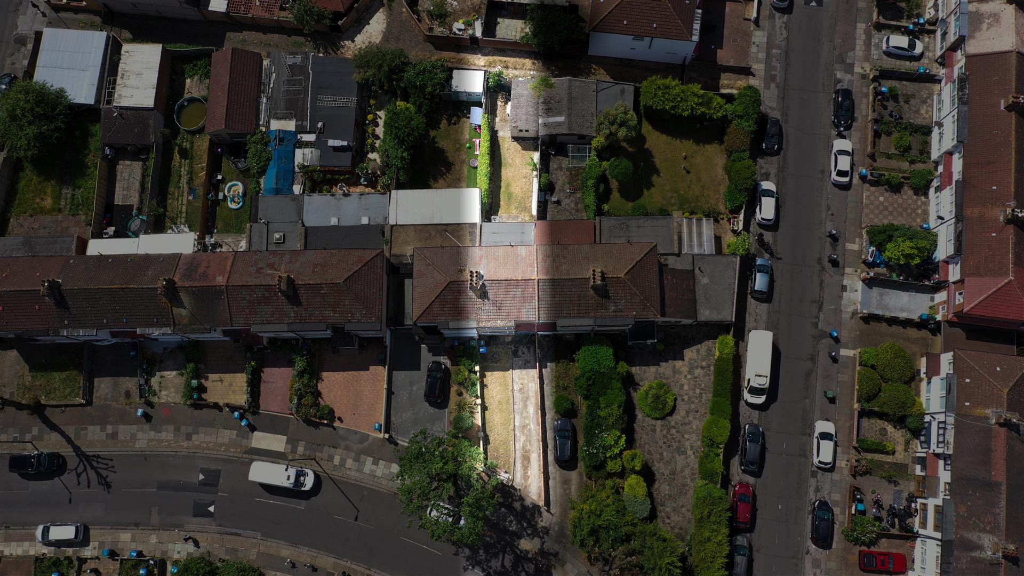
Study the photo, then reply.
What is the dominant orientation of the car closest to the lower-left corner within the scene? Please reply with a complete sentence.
The car closest to the lower-left corner has been laid out horizontally relative to the frame.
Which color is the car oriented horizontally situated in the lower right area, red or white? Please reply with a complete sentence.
The car oriented horizontally situated in the lower right area looks red in the image.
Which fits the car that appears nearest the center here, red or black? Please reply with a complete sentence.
In this view, the car that appears nearest the center is black.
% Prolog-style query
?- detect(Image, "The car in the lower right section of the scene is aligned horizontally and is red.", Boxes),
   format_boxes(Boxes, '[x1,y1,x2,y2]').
[857,551,907,576]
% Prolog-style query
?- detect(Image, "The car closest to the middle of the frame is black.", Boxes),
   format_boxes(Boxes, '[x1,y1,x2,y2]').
[425,361,449,406]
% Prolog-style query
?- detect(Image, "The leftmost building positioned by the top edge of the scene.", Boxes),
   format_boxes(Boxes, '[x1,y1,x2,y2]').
[33,28,120,115]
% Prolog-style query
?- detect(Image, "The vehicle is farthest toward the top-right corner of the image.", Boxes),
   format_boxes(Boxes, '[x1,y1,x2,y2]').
[882,34,922,58]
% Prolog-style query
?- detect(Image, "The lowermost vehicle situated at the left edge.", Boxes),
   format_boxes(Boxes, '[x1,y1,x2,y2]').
[34,521,88,548]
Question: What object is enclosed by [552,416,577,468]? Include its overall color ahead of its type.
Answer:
black car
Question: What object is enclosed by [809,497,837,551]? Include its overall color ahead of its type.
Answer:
black car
